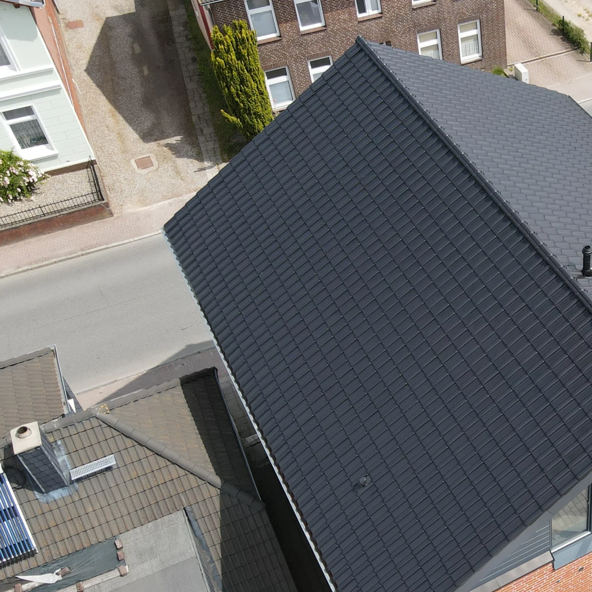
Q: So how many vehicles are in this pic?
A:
zero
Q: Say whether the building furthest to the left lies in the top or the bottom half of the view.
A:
top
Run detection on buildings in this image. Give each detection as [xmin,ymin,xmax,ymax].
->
[158,32,592,592]
[0,340,300,592]
[0,0,95,186]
